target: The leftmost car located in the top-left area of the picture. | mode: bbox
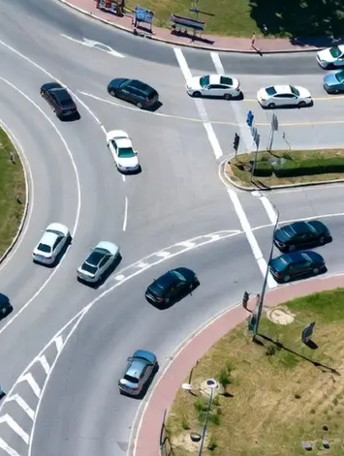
[37,85,82,121]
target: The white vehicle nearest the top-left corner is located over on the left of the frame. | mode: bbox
[107,132,136,171]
